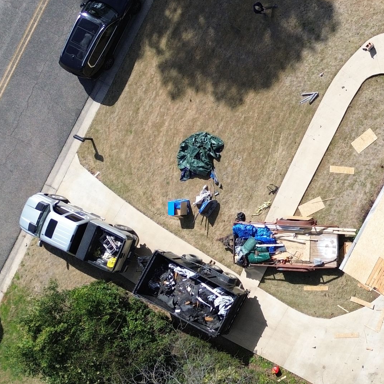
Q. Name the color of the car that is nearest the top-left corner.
black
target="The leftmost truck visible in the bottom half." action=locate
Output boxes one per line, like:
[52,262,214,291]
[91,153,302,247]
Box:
[15,193,139,274]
